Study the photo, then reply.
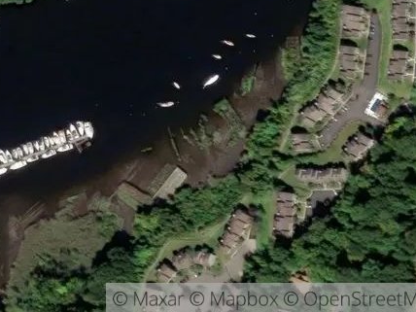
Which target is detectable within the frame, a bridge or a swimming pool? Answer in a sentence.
The image shows a swimming pool.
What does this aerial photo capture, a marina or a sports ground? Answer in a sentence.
The area seen from above is a marina.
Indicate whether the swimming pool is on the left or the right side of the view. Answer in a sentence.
You can find the swimming pool on the right side of the picture.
